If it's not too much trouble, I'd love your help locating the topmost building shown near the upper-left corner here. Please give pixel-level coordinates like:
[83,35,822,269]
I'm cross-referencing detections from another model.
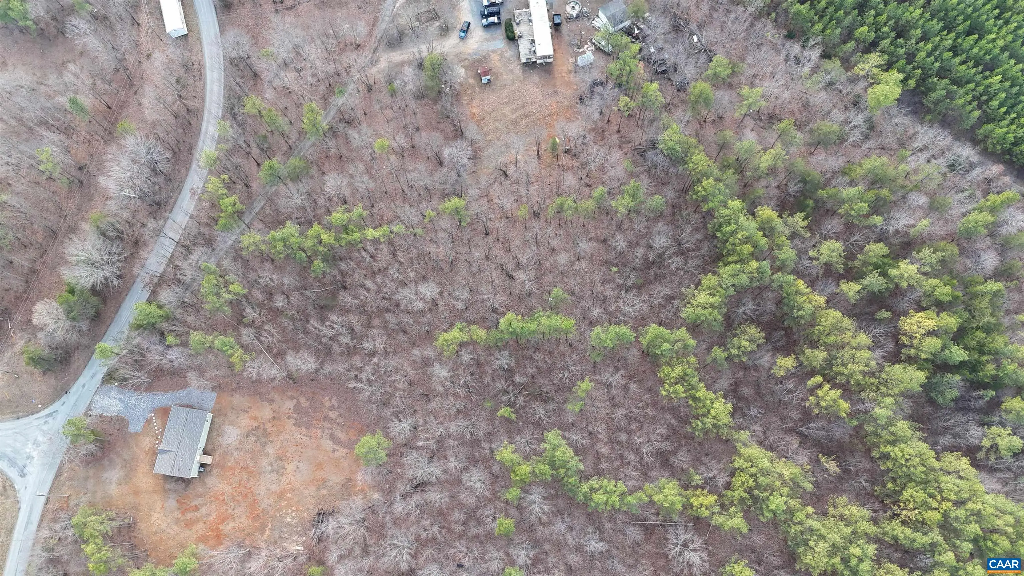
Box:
[160,0,188,38]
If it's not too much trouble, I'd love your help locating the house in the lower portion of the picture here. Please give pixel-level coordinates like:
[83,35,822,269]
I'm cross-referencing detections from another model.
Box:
[153,406,214,478]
